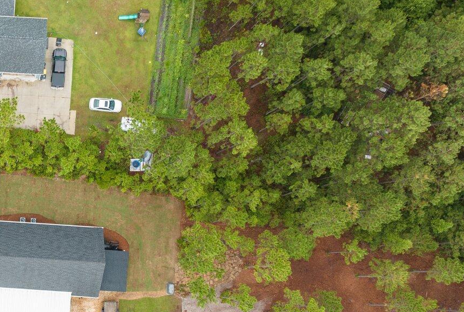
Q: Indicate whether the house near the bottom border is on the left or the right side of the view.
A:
left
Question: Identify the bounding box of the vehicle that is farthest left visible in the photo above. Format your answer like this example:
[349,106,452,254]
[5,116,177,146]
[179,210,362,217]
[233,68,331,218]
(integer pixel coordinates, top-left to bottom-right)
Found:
[51,48,67,91]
